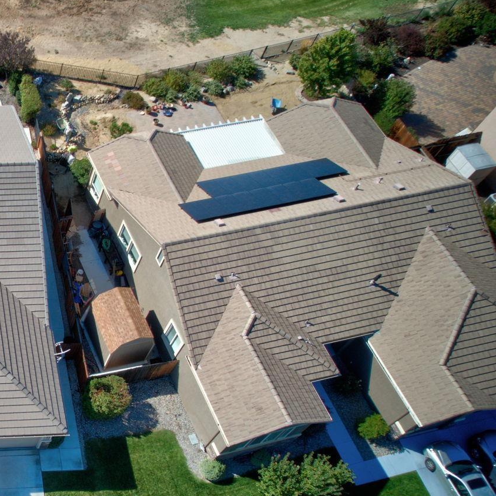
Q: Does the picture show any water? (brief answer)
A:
No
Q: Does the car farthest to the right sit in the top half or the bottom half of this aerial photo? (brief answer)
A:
bottom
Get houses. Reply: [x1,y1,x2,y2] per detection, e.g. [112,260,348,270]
[0,105,82,457]
[86,92,496,458]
